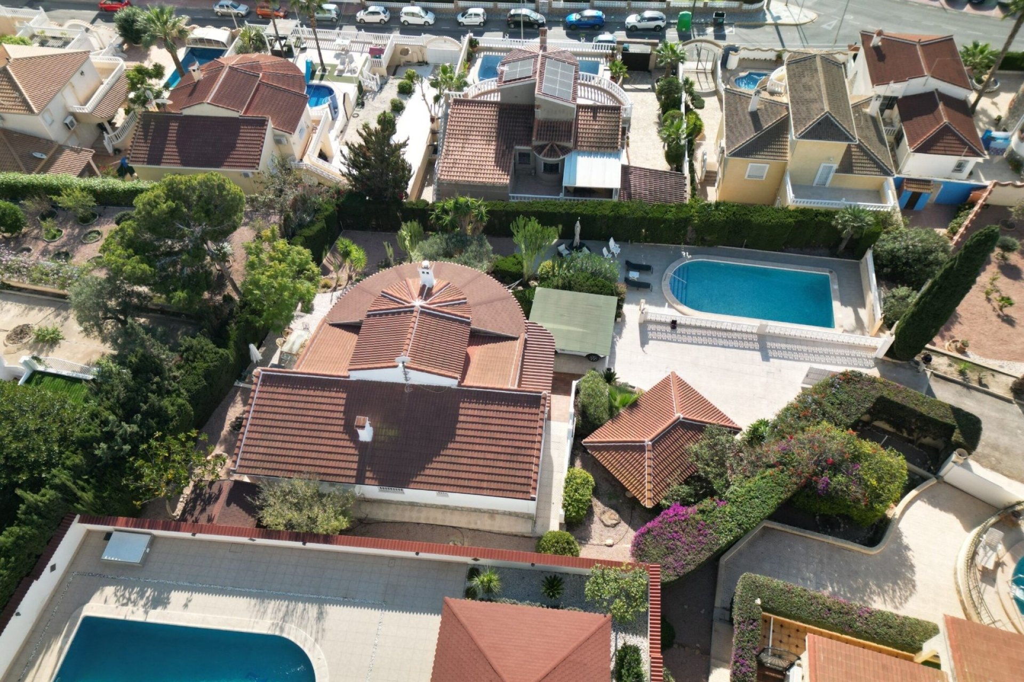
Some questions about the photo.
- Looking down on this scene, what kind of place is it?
residential area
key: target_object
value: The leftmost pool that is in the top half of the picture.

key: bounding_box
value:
[168,48,220,90]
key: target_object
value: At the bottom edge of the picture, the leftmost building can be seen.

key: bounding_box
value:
[430,597,613,682]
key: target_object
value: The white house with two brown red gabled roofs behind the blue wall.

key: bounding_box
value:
[847,18,990,184]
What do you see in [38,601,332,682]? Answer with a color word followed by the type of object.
blue swimming pool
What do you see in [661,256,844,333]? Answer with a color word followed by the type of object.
blue swimming pool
